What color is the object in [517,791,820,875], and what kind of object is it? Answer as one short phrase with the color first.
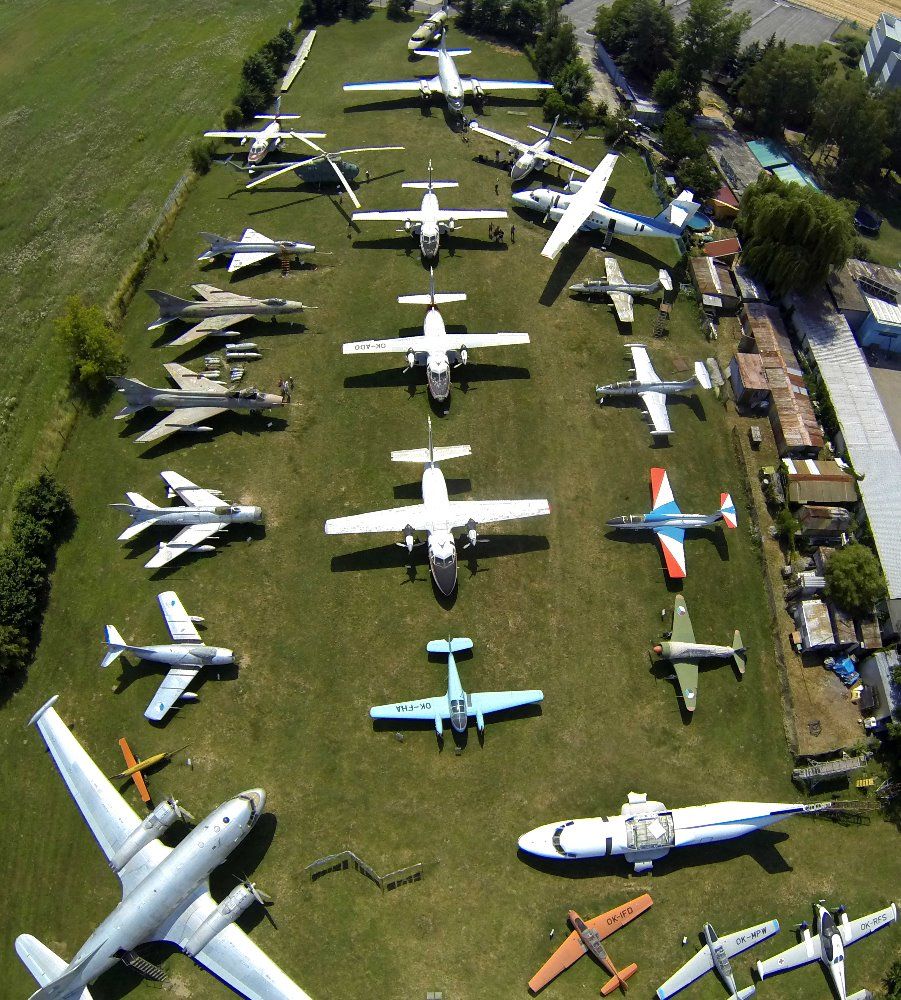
white airplane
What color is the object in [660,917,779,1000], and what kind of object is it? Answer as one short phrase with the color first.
white airplane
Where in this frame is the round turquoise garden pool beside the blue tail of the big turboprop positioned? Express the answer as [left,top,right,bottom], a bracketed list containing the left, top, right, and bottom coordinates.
[679,214,717,243]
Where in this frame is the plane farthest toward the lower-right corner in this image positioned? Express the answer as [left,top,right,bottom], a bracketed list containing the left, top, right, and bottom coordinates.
[762,901,896,1000]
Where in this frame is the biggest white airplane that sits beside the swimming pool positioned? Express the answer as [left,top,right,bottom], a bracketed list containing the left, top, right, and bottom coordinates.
[512,152,700,257]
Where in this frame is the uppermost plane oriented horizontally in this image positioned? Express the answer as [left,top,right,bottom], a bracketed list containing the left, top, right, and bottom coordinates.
[343,23,555,120]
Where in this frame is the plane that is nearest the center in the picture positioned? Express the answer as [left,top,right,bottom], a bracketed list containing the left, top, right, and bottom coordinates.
[325,424,551,596]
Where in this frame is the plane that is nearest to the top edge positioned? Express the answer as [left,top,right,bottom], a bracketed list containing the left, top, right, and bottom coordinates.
[408,0,447,53]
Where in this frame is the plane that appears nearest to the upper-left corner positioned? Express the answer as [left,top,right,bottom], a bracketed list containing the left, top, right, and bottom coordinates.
[202,87,327,164]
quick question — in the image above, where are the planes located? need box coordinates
[19,695,309,1000]
[202,87,327,164]
[343,23,555,120]
[517,791,820,875]
[606,469,739,578]
[469,105,595,183]
[408,0,447,53]
[199,229,332,271]
[325,424,551,596]
[109,363,303,442]
[108,472,263,568]
[371,637,542,740]
[530,895,652,994]
[146,284,311,345]
[101,592,237,719]
[653,597,756,711]
[569,258,673,322]
[762,901,896,1000]
[343,271,530,401]
[512,152,700,257]
[660,917,779,1000]
[596,345,711,435]
[352,157,508,259]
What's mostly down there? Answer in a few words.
grass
